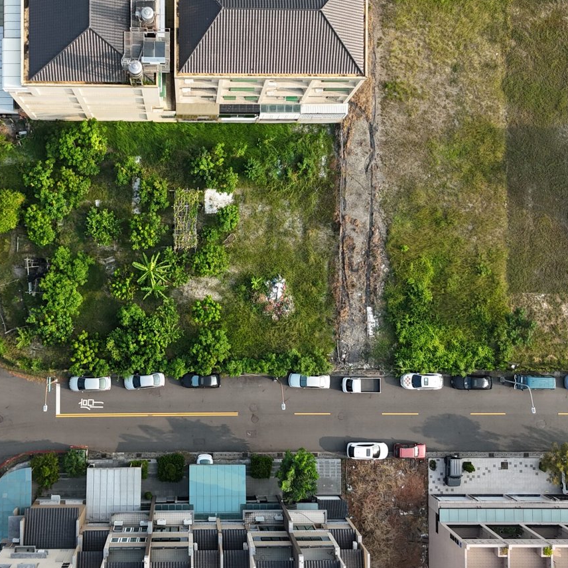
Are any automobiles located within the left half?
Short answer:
Yes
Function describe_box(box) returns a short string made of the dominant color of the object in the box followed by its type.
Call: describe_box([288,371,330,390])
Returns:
white car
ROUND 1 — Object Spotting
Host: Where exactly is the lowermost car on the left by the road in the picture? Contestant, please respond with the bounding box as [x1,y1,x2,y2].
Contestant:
[197,449,214,464]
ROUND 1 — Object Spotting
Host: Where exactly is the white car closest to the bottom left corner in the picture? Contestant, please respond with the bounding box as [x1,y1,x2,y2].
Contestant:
[70,374,112,394]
